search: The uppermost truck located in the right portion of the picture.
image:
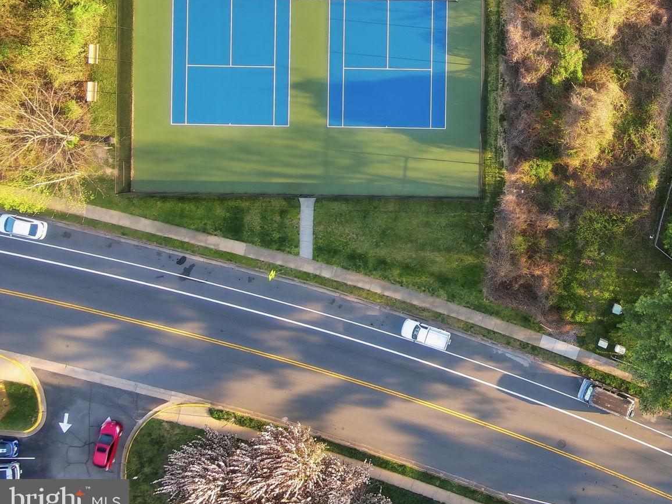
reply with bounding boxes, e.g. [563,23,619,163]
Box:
[399,317,455,352]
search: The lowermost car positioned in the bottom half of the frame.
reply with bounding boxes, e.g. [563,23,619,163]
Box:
[0,460,23,483]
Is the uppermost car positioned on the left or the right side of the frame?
left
